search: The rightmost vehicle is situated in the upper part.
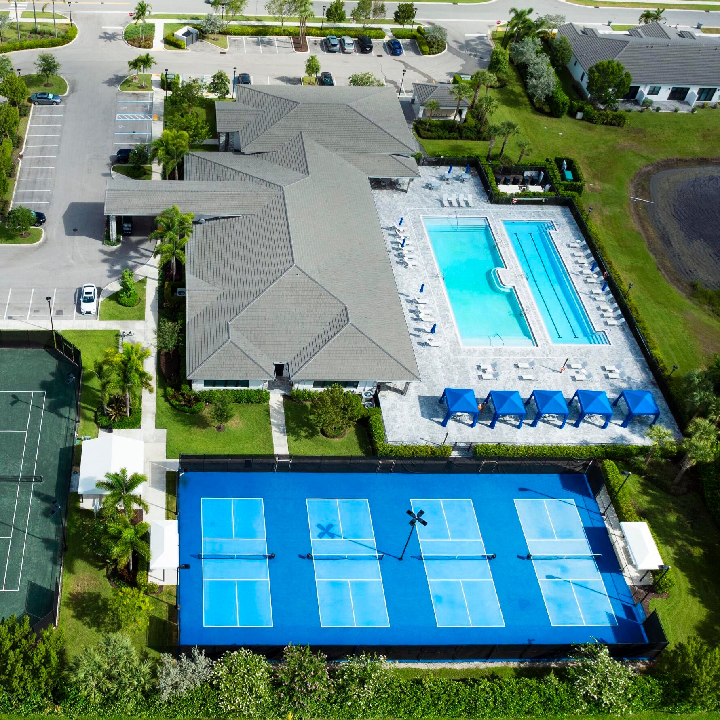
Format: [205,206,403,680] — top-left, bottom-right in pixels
[387,39,405,56]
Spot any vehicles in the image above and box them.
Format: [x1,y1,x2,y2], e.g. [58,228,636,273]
[31,91,63,104]
[358,37,375,53]
[15,211,51,226]
[238,71,252,84]
[120,217,136,240]
[324,36,341,52]
[320,71,336,85]
[112,147,144,162]
[79,284,97,315]
[387,39,405,56]
[340,38,356,53]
